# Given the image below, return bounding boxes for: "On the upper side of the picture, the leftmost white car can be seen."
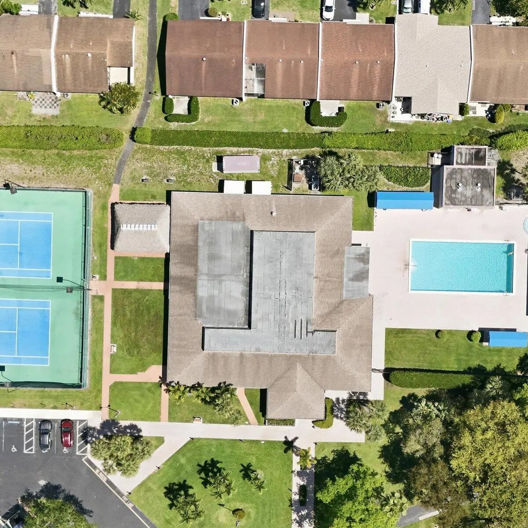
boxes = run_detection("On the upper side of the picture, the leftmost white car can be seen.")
[322,0,337,22]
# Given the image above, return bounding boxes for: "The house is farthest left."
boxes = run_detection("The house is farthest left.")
[0,14,62,98]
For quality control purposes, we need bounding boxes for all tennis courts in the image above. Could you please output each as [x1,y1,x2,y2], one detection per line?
[0,190,90,289]
[0,287,90,385]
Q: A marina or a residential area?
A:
residential area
